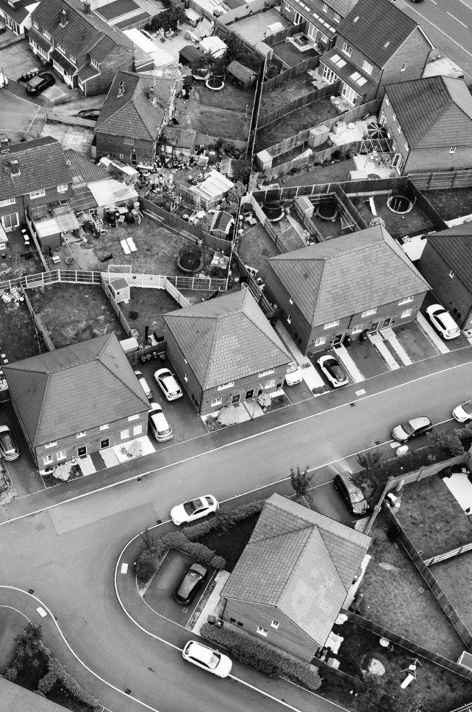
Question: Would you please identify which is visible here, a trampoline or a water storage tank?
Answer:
trampoline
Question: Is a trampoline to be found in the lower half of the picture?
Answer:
No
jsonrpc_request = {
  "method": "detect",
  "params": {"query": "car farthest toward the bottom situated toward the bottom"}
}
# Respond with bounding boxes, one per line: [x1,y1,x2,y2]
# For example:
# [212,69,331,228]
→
[180,639,234,679]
